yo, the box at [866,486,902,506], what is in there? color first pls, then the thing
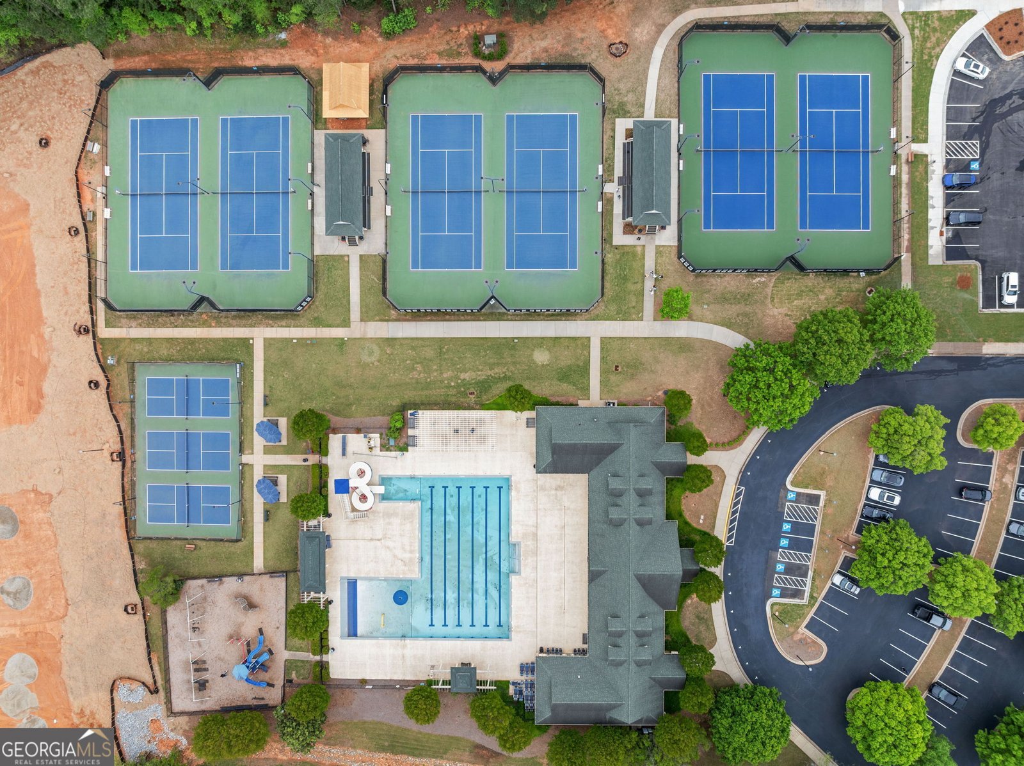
white car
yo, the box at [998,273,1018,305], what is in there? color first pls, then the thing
white car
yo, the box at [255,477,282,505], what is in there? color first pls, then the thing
blue umbrella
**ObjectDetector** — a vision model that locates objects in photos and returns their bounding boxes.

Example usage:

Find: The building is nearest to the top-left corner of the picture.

[322,62,371,122]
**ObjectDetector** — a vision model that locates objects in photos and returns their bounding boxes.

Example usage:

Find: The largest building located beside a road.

[534,406,701,726]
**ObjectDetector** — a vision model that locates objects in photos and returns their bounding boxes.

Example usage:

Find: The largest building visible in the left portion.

[324,132,372,246]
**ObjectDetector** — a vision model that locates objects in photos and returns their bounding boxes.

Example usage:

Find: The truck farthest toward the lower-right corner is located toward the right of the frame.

[926,682,968,713]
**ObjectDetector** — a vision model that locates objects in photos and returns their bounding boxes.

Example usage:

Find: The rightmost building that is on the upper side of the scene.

[622,119,671,234]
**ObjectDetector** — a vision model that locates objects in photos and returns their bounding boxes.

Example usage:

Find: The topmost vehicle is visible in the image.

[952,59,988,80]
